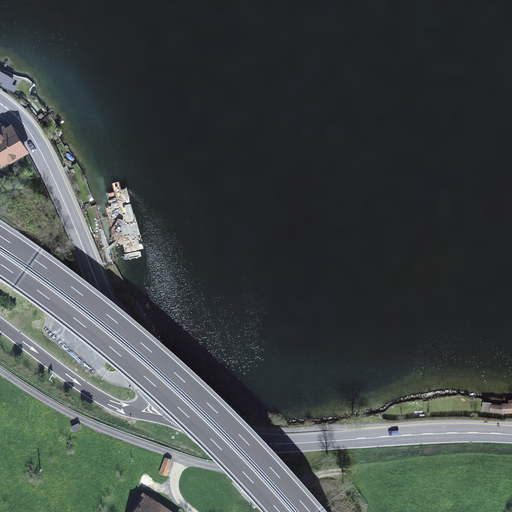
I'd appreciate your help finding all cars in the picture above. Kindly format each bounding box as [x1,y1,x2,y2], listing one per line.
[27,138,36,150]
[388,430,399,436]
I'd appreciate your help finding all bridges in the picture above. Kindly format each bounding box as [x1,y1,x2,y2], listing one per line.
[0,220,326,512]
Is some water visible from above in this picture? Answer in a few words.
Yes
